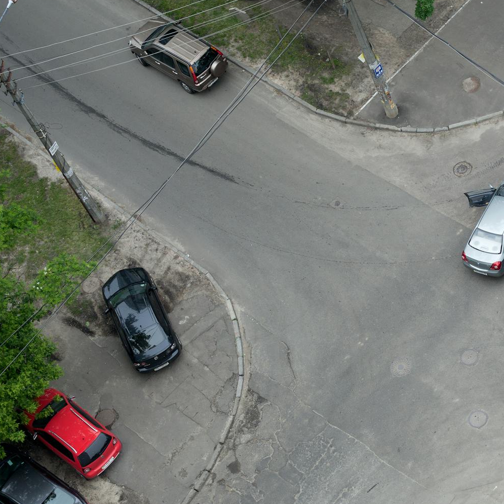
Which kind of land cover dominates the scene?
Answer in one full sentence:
For the most part, this view shows paved ground.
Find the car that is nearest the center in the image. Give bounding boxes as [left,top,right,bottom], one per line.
[102,266,182,374]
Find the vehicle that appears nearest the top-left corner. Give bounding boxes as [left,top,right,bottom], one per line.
[131,20,234,94]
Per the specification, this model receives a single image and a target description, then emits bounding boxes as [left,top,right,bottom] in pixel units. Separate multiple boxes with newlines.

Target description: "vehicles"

[458,177,504,279]
[25,384,125,484]
[0,446,85,504]
[131,20,234,94]
[102,266,182,374]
